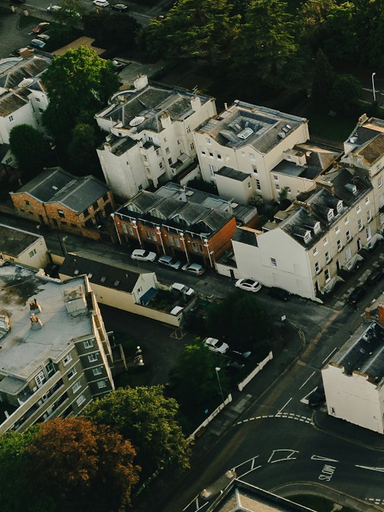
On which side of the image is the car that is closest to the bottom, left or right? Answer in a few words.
right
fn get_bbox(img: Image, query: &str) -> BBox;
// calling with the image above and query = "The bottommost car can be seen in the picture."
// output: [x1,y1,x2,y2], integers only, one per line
[302,385,329,410]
